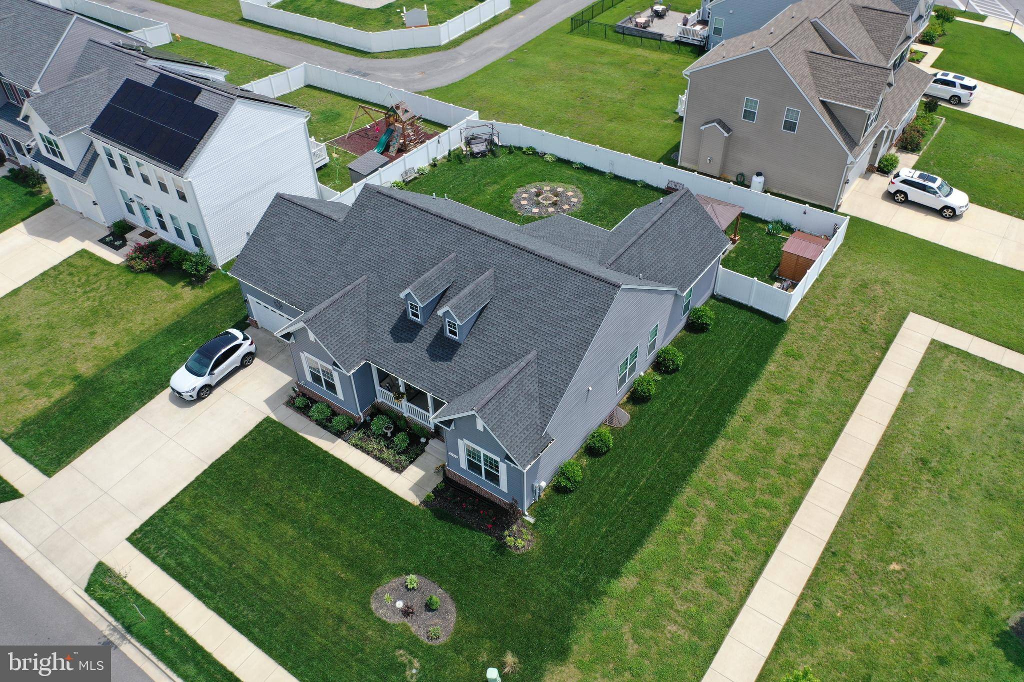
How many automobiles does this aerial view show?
3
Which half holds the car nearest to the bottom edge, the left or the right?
left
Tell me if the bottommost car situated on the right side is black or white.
white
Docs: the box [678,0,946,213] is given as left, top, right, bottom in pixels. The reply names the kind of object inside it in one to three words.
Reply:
house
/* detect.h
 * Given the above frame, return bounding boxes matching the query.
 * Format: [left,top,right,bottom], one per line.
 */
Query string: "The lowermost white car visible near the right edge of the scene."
[882,170,974,224]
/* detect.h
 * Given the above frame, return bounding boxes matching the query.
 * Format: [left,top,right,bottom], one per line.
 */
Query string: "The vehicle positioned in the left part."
[170,331,265,406]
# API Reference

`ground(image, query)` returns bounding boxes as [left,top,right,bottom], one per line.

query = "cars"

[170,331,265,406]
[925,68,983,103]
[882,170,974,224]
